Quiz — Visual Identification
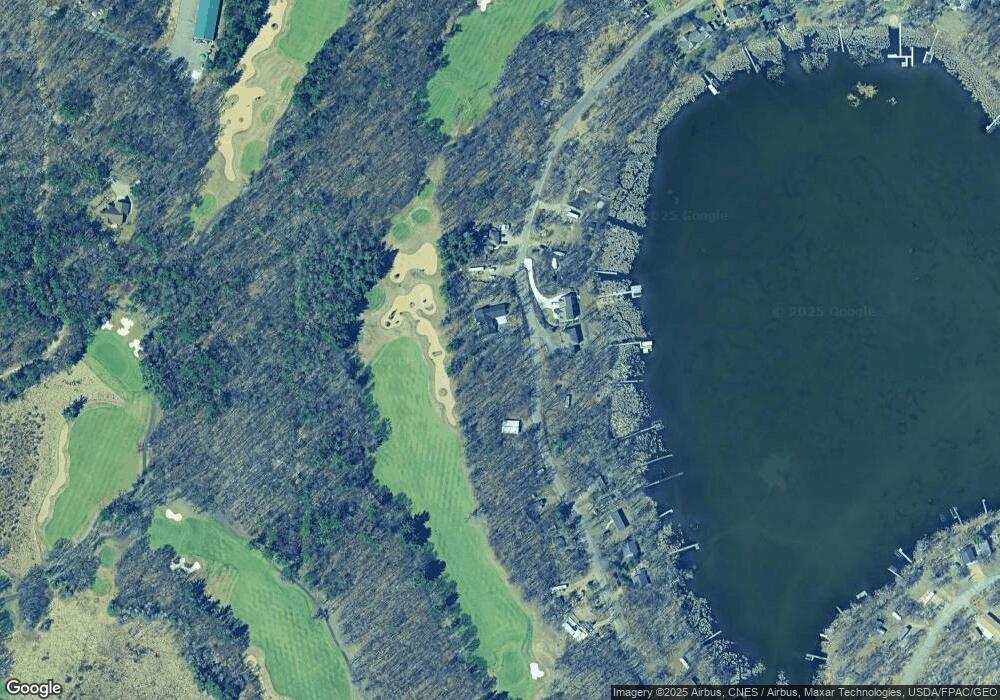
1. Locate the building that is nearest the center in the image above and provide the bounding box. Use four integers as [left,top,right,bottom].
[476,303,511,334]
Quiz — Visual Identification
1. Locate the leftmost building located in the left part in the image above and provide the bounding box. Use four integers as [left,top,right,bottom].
[103,196,134,225]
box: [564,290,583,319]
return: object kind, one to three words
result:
house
